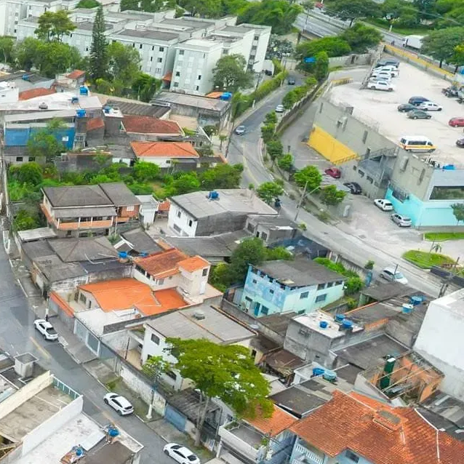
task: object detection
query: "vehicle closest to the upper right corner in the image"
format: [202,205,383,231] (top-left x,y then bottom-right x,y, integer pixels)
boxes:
[406,32,424,44]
